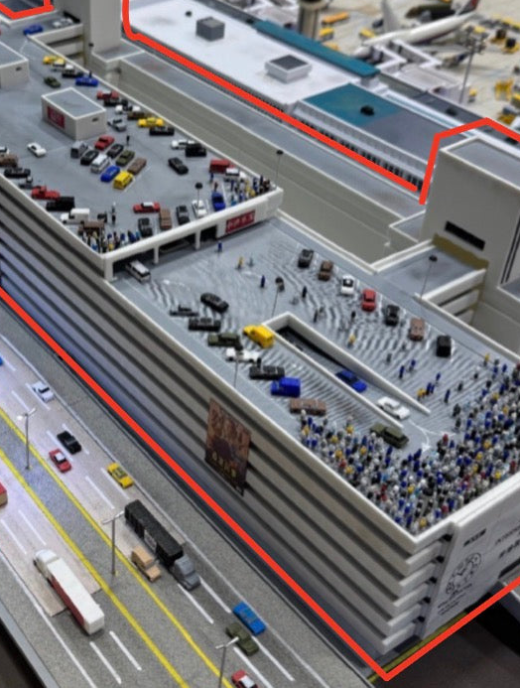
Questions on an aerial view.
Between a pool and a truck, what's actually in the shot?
truck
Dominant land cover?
buildings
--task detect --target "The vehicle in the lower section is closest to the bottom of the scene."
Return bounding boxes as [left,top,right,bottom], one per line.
[227,664,258,688]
